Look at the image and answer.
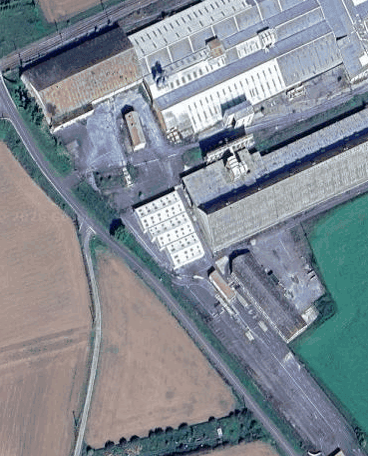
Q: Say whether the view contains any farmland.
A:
Yes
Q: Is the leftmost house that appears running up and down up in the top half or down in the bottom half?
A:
top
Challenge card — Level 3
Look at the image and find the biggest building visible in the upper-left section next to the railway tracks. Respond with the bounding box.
[20,24,143,130]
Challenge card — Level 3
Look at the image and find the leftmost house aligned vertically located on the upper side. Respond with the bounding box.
[123,111,146,150]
